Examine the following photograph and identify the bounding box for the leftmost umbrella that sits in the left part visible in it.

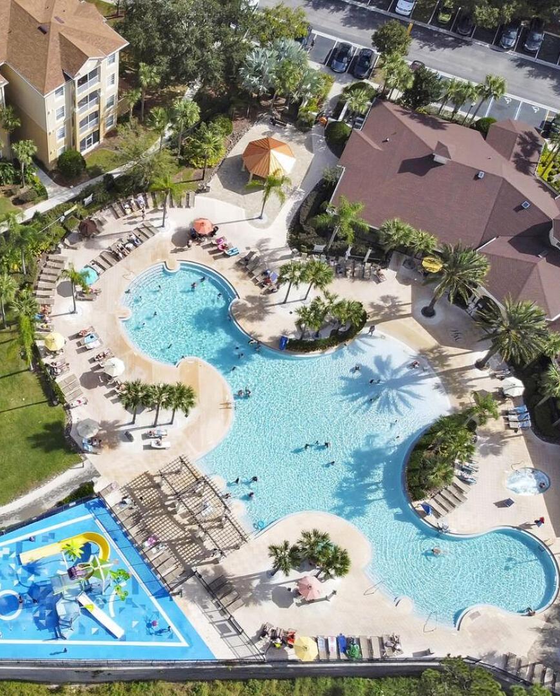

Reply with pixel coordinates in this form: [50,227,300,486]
[42,333,68,355]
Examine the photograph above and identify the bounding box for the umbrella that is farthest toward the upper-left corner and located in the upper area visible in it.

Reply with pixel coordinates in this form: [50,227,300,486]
[75,218,99,241]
